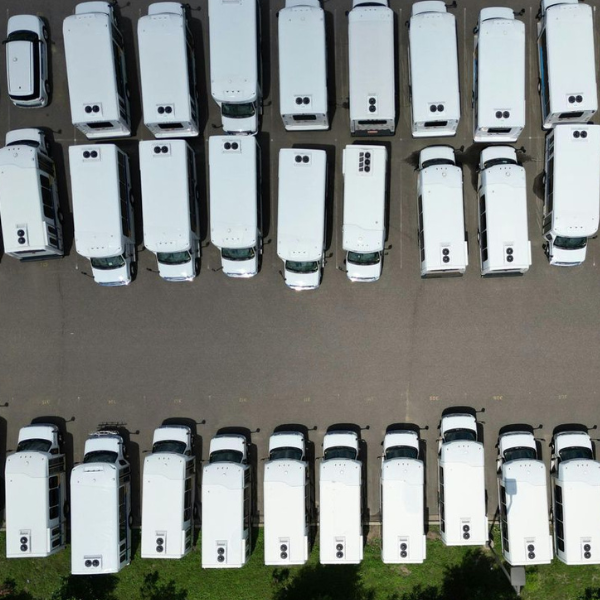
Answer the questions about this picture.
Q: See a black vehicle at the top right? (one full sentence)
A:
No, no black vehicle appears at the top right.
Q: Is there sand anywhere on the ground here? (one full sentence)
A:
No, there is no sand in the image.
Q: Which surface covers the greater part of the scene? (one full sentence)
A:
The bulk of the photo consists of paved ground.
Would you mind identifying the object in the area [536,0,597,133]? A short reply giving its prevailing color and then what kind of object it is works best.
white vehicle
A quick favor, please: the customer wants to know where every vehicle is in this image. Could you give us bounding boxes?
[536,0,597,133]
[261,429,315,564]
[70,143,137,288]
[202,432,255,568]
[434,409,489,545]
[142,423,198,559]
[376,427,430,562]
[66,2,134,141]
[72,427,134,574]
[275,148,330,292]
[494,428,554,565]
[315,428,369,563]
[277,0,331,131]
[543,124,600,270]
[405,0,459,138]
[0,127,66,264]
[210,0,266,137]
[7,423,70,558]
[345,0,398,137]
[141,139,202,283]
[472,145,528,283]
[139,2,202,140]
[412,145,467,283]
[210,135,266,280]
[471,8,525,145]
[548,429,600,565]
[337,145,391,284]
[2,16,52,109]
